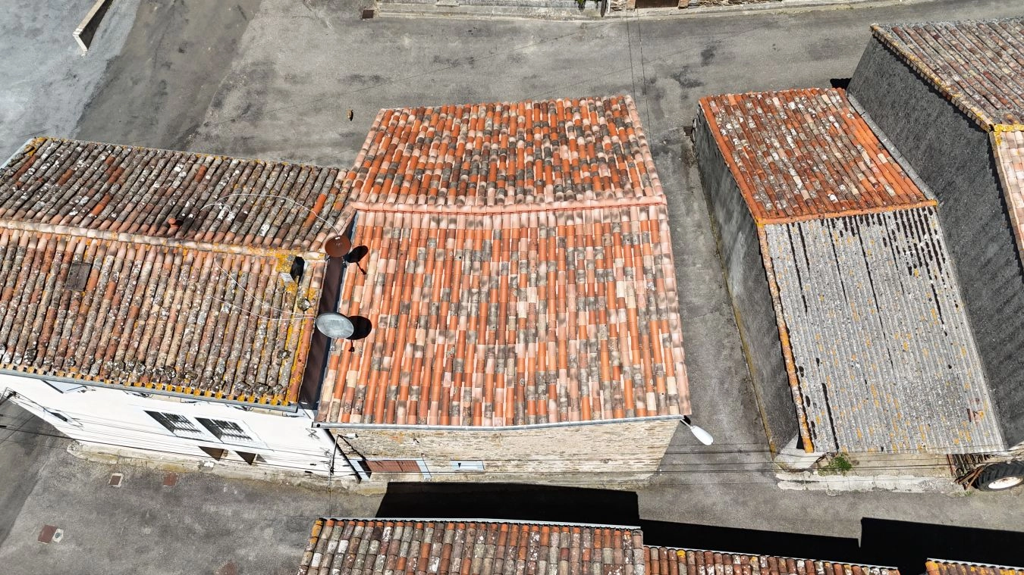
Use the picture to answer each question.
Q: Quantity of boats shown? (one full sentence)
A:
I count no boats.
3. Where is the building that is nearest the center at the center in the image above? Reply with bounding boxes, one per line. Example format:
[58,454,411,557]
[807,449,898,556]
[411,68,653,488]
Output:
[305,92,696,479]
